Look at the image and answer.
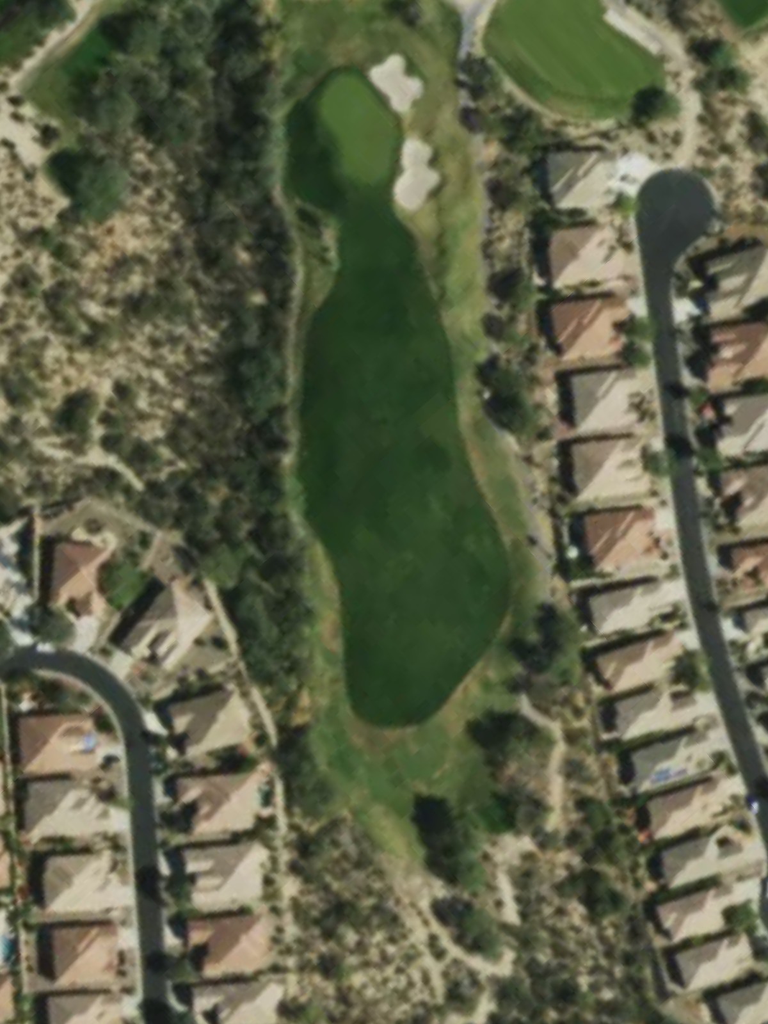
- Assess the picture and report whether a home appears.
Yes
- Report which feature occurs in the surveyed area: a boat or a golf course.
golf course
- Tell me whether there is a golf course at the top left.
Yes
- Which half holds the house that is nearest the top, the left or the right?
right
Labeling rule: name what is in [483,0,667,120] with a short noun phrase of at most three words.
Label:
golf course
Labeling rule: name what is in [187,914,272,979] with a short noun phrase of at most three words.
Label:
house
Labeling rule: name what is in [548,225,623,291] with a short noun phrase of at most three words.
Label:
house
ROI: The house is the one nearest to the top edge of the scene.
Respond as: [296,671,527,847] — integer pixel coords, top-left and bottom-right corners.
[546,152,615,213]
